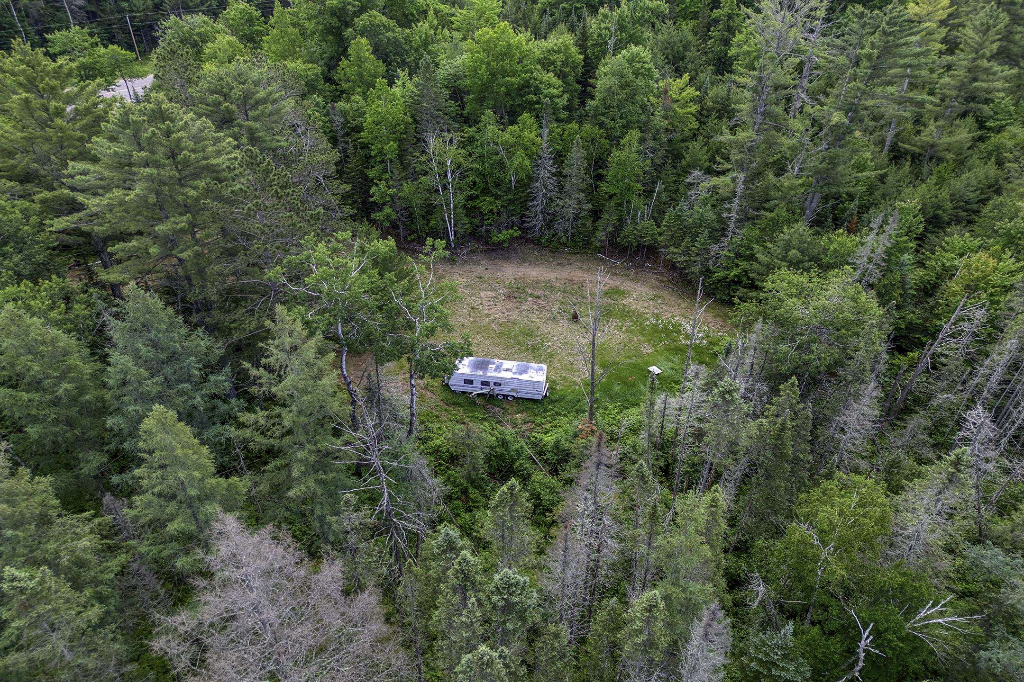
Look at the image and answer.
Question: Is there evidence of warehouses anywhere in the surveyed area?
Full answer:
No, I find no warehouse anywhere in the image.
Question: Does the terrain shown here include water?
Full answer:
No, there is no water in the image.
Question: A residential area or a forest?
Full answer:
The picture captures a forest.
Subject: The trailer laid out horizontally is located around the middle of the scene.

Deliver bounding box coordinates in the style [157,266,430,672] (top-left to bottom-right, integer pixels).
[440,355,550,402]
